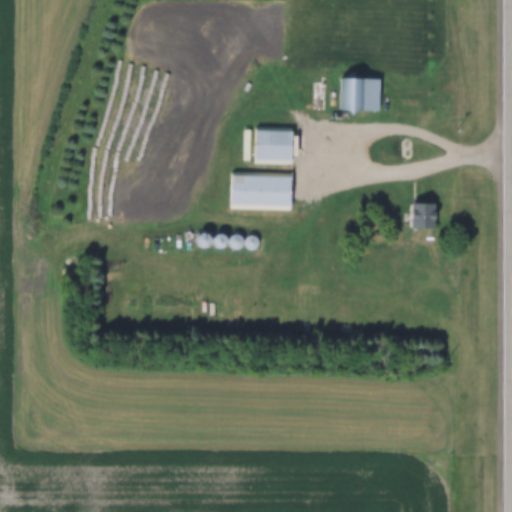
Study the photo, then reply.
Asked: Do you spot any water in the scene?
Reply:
No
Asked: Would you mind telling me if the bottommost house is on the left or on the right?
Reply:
right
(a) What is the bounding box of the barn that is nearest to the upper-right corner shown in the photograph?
[340,76,382,116]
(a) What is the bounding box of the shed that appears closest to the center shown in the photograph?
[232,172,294,212]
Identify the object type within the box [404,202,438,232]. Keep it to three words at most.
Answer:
house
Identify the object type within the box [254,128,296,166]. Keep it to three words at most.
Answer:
shed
